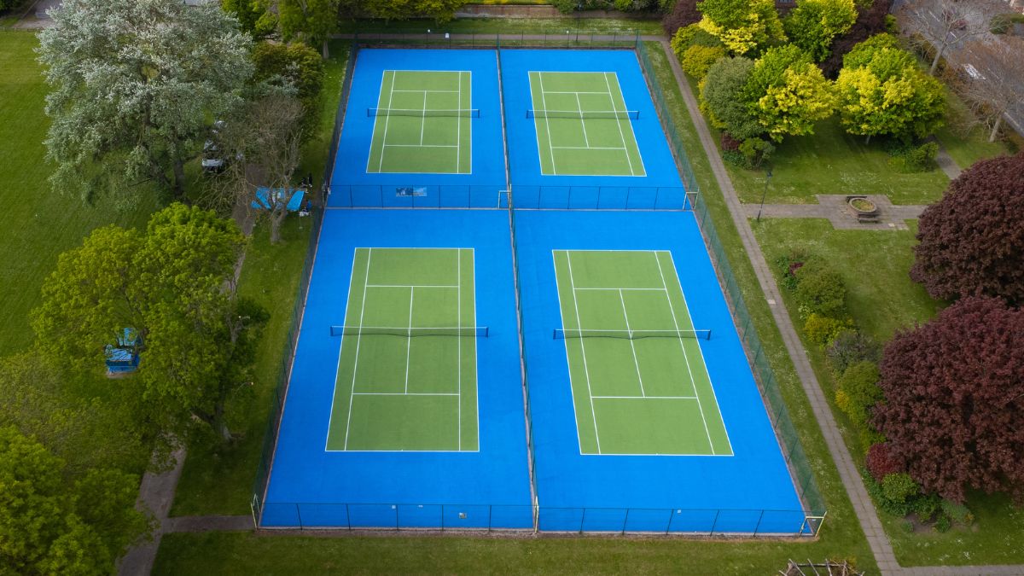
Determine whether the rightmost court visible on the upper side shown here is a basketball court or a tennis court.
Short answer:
tennis court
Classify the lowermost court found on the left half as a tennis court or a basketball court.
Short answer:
tennis court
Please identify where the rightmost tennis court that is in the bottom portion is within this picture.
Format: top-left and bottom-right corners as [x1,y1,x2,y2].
[513,209,812,532]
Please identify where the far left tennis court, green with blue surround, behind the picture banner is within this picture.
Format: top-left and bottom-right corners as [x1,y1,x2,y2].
[327,48,509,207]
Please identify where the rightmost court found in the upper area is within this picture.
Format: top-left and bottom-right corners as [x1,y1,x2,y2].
[501,48,693,208]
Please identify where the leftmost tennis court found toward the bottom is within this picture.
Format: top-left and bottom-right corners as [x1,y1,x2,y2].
[260,208,534,530]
